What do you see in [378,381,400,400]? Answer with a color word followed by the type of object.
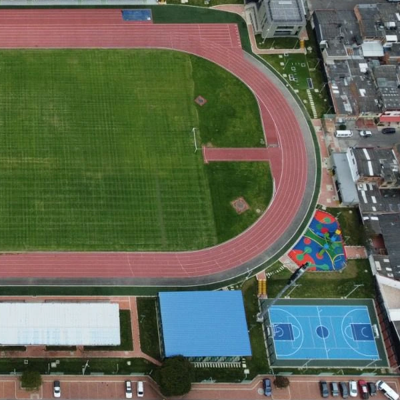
white vehicle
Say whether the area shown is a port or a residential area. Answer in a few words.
residential area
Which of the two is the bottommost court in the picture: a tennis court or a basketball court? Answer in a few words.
basketball court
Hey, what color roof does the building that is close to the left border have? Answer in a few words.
white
